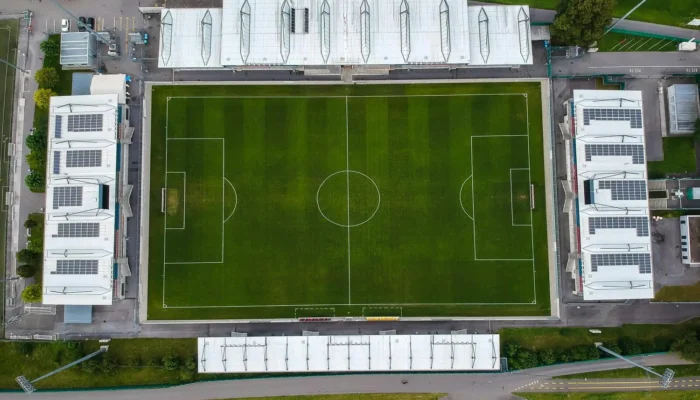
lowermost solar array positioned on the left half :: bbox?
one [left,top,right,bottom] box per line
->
[51,261,98,274]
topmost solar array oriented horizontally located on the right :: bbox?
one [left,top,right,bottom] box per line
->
[584,109,642,128]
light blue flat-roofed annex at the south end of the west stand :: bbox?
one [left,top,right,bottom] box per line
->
[64,305,99,323]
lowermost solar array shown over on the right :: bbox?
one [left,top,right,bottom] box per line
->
[591,254,651,273]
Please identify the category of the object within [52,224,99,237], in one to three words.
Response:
solar array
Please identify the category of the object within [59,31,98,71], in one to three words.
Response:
shed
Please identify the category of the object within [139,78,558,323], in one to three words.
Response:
soccer field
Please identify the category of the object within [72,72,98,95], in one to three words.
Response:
building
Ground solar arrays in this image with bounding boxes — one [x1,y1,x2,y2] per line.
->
[600,181,646,200]
[68,114,103,132]
[589,217,648,236]
[53,187,82,209]
[66,151,101,167]
[54,152,59,174]
[591,254,651,273]
[52,224,99,237]
[51,261,98,274]
[584,109,642,128]
[586,144,644,163]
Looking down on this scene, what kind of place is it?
sports ground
